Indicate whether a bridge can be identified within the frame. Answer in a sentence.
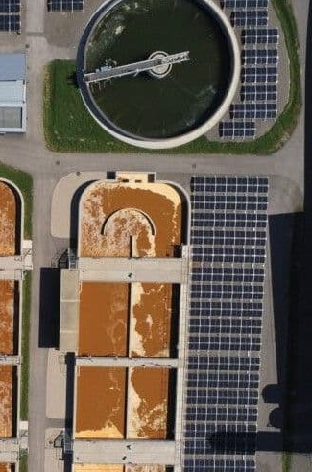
Yes, the image includes a bridge.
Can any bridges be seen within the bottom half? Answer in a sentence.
No, no bridge is visible within the bottom half.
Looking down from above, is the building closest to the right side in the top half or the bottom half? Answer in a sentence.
You can find the building closest to the right side in the bottom half.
